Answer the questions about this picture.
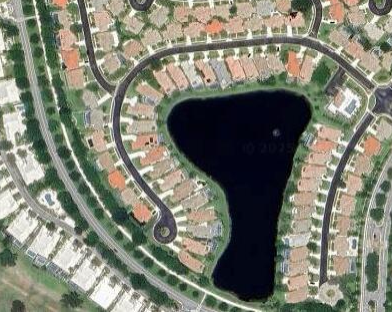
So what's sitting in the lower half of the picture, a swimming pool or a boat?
swimming pool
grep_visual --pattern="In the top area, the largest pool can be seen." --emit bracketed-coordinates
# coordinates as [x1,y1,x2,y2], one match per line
[331,88,364,118]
